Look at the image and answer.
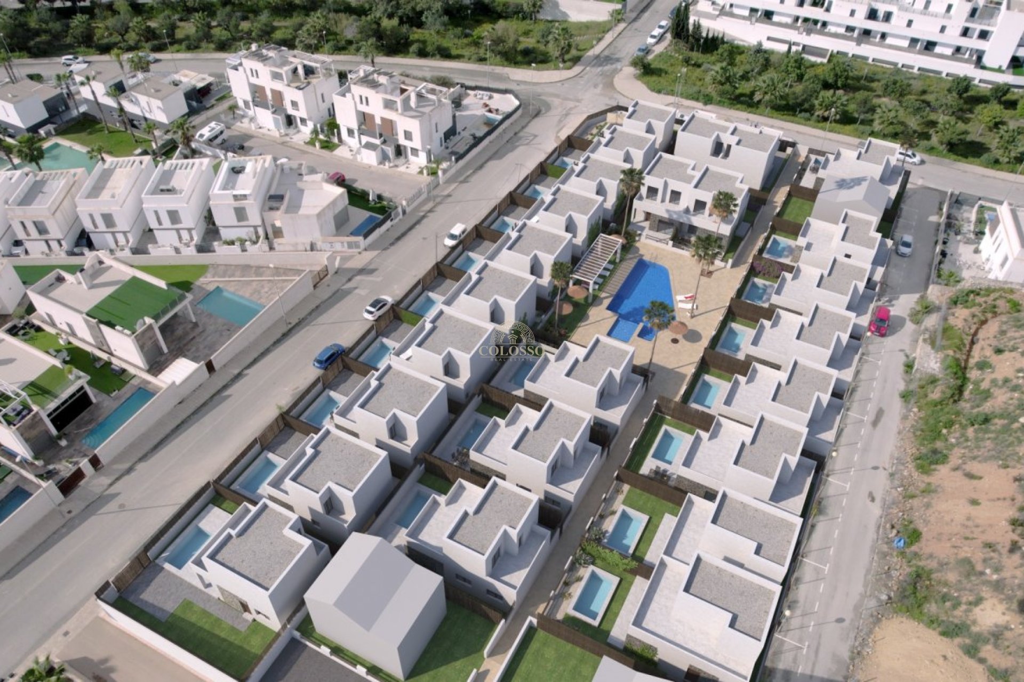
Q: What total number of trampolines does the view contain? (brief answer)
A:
0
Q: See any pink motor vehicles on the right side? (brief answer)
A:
Yes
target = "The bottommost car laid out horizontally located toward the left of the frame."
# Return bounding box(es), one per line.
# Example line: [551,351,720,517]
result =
[321,168,353,184]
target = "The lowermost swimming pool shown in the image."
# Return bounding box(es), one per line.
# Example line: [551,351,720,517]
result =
[566,565,620,626]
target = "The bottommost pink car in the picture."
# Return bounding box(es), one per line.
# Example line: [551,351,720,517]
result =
[871,305,890,335]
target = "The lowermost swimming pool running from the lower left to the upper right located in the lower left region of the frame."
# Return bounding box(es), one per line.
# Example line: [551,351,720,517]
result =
[165,527,217,581]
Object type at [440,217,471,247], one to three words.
car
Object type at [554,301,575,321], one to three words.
umbrella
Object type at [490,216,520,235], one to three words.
swimming pool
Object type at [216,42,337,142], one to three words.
house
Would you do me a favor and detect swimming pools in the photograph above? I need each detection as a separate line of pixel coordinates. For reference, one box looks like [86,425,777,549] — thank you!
[383,498,427,550]
[600,504,650,559]
[502,360,538,398]
[644,433,685,476]
[0,478,37,525]
[300,391,349,430]
[350,214,382,237]
[447,422,487,467]
[566,565,620,626]
[554,157,578,170]
[762,240,789,259]
[524,186,551,201]
[739,278,771,304]
[192,285,267,326]
[635,324,660,342]
[688,375,726,413]
[453,251,486,273]
[490,216,520,235]
[234,453,287,499]
[409,291,446,318]
[358,337,400,370]
[77,386,158,450]
[715,323,750,355]
[165,527,217,581]
[602,255,679,331]
[604,316,642,344]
